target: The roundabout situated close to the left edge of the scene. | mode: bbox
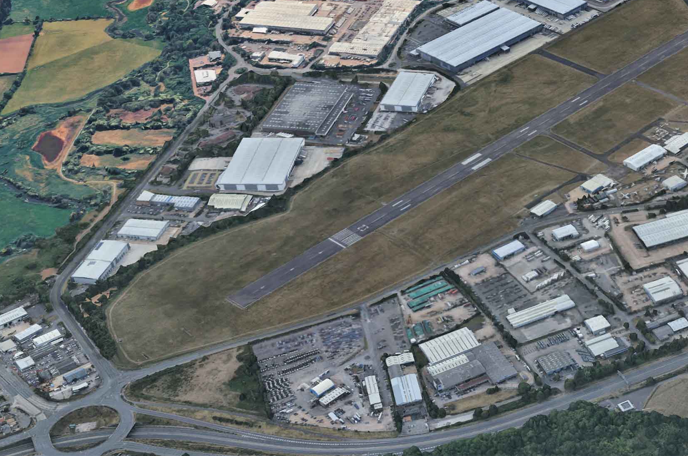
[32,394,134,456]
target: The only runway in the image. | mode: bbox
[228,31,688,308]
